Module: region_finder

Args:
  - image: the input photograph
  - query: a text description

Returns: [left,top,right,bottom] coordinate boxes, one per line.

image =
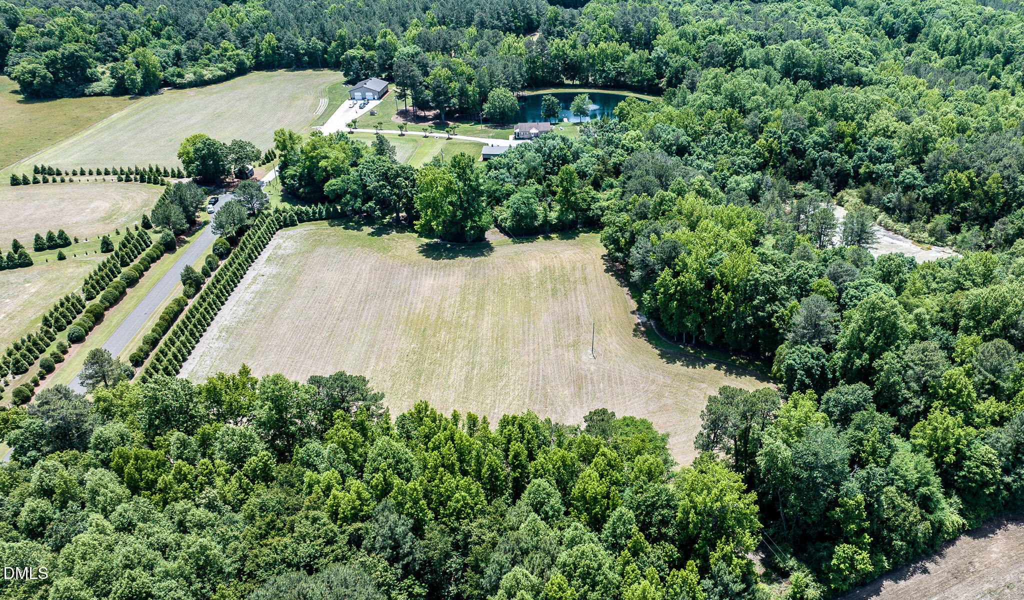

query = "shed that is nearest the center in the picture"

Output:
[481,146,521,161]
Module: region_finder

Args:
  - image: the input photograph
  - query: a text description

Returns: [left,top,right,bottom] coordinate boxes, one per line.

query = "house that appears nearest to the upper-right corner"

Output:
[512,121,551,139]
